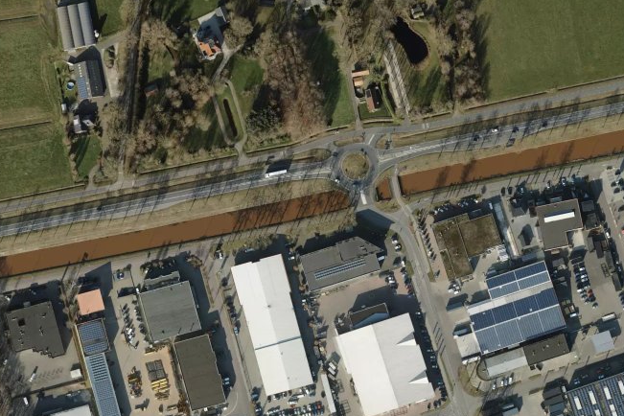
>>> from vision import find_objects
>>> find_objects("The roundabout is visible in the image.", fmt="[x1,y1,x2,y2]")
[332,140,380,186]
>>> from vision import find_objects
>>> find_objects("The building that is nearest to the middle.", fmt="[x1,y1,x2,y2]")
[299,237,382,293]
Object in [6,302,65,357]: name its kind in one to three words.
building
